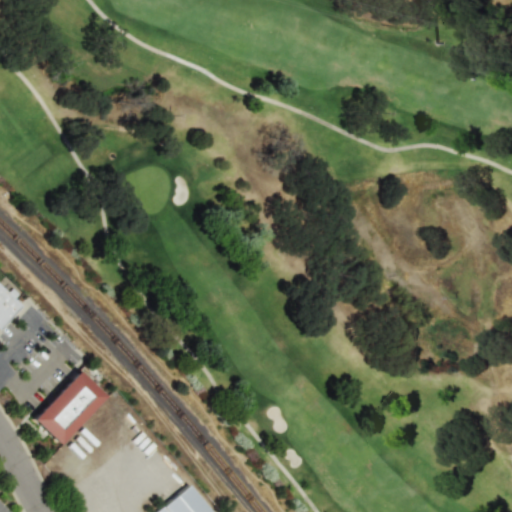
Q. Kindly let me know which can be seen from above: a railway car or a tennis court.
railway car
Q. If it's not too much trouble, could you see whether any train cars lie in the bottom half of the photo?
Yes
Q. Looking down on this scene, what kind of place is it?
golf course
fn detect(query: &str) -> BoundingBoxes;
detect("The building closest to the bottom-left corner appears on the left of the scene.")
[36,373,108,444]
